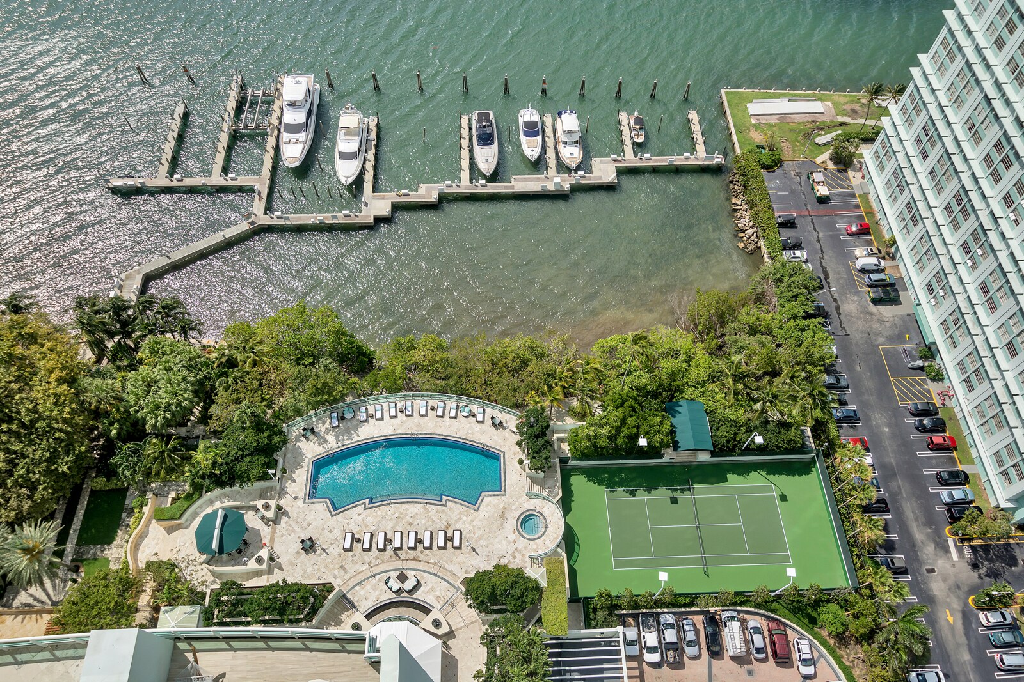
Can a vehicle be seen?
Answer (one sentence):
Yes, a vehicle can be made out from above.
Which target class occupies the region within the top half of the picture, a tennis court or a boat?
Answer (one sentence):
The feature located within the top half of the picture is a boat.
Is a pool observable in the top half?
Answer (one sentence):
No, I can find no pool in the top half.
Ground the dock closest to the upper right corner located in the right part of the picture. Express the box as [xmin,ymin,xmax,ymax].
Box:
[686,101,707,156]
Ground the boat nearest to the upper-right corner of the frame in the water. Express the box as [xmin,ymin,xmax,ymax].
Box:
[630,114,645,144]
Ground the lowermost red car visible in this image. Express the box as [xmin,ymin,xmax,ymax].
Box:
[767,621,791,663]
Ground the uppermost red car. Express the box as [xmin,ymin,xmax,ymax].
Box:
[844,222,872,236]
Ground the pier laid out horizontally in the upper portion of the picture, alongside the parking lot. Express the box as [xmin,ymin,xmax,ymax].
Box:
[104,155,724,317]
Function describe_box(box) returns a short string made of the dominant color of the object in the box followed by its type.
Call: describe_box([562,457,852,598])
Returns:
green tennis court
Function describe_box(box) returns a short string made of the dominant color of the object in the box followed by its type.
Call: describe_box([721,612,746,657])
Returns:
white vehicle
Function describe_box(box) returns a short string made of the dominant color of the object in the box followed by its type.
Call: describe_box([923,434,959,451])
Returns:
red car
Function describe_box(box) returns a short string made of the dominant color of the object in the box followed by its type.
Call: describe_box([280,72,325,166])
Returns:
white boat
